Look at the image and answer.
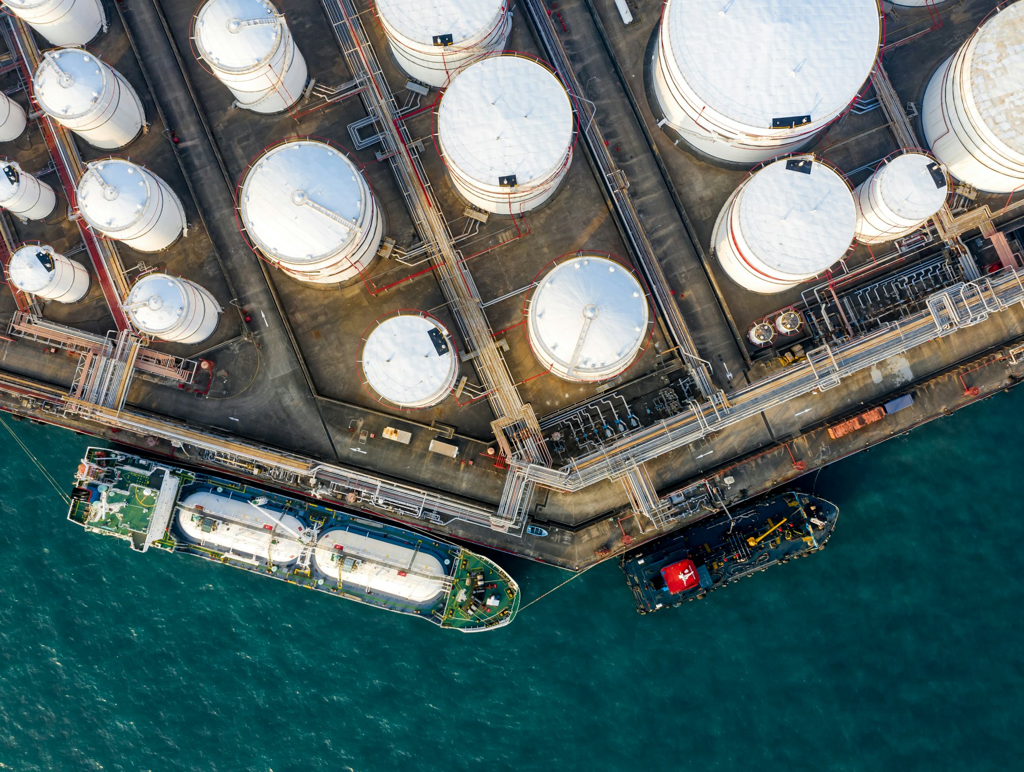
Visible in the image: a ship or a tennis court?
ship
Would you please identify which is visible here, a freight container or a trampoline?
freight container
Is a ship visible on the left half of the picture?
Yes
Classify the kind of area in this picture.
industrial area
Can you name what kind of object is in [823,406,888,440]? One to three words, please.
shipping container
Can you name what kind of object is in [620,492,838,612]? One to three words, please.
ship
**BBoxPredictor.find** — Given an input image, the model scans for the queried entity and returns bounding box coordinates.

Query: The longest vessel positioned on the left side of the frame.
[66,446,521,633]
